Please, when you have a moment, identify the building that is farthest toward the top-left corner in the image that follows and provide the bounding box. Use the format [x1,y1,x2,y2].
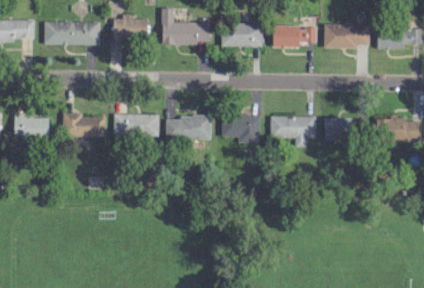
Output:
[0,19,35,44]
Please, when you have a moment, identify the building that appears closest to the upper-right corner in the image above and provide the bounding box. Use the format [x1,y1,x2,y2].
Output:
[378,28,422,49]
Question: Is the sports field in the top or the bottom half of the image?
bottom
